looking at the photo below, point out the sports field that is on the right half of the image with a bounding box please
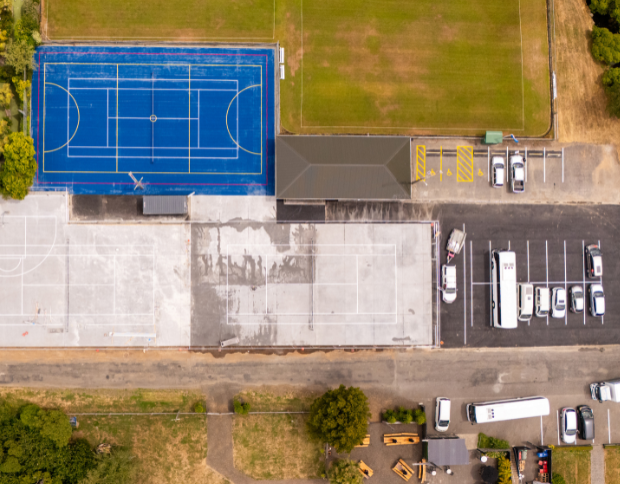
[277,0,550,136]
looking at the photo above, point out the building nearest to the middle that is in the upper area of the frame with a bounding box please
[275,134,412,200]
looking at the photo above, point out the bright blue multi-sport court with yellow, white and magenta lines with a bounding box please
[31,46,275,194]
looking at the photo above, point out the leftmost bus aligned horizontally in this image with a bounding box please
[467,395,550,428]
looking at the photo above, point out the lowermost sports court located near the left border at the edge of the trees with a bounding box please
[0,190,190,348]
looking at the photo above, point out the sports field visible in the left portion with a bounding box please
[42,0,277,43]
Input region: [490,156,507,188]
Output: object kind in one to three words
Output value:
car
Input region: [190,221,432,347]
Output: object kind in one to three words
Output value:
sports court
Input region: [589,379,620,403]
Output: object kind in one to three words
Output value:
truck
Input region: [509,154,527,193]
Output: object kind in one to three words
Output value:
vehicle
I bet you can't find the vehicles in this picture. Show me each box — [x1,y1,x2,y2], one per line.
[516,283,535,320]
[534,287,551,317]
[490,248,518,328]
[587,283,605,317]
[509,154,527,193]
[568,285,585,313]
[441,264,459,302]
[584,244,602,279]
[490,156,507,188]
[549,287,567,317]
[435,396,452,431]
[467,395,550,428]
[559,406,578,442]
[589,379,620,403]
[575,404,595,440]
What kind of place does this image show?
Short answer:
sports ground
